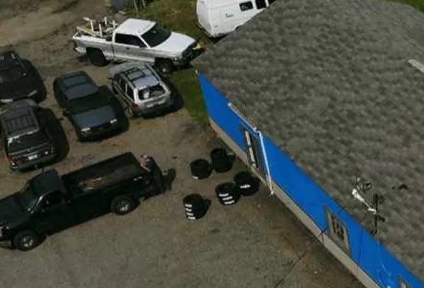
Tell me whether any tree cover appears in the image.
No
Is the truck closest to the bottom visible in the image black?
Yes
